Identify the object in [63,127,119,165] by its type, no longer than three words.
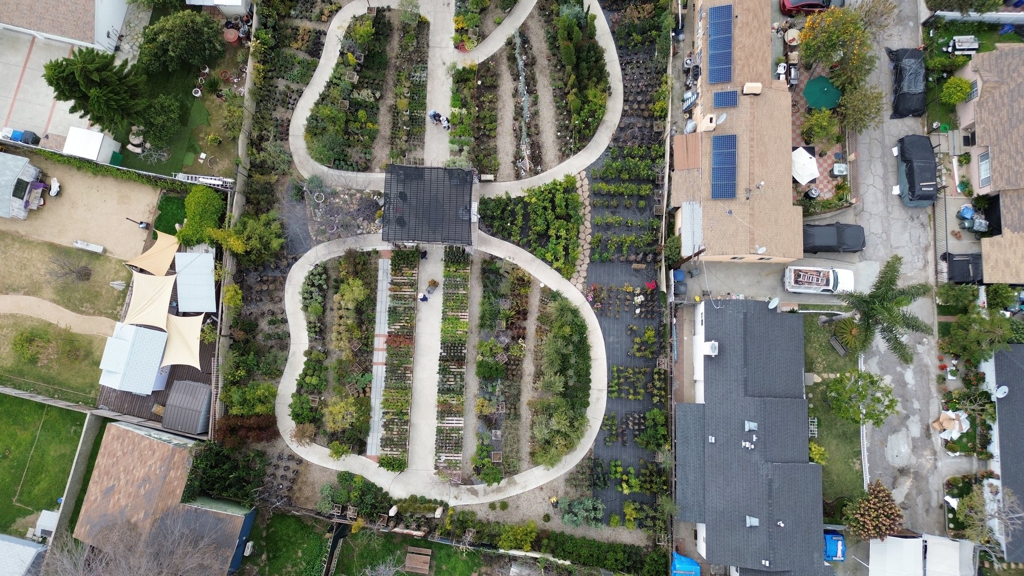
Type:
shed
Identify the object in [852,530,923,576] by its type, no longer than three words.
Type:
tent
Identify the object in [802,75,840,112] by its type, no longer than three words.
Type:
umbrella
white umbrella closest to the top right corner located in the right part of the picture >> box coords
[793,152,819,182]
